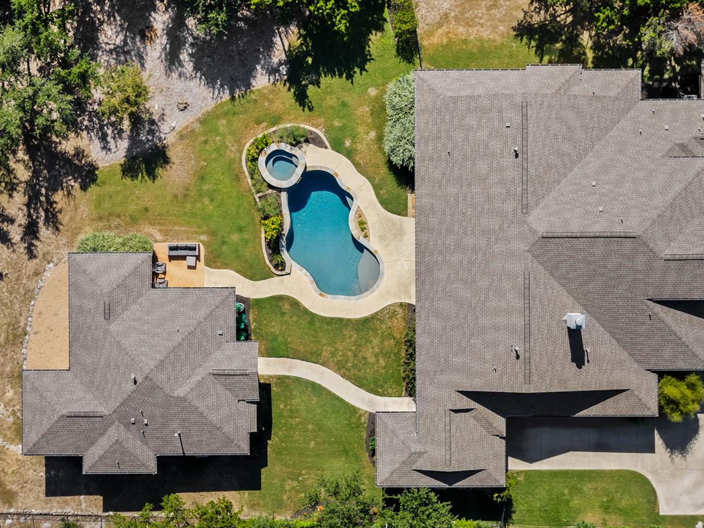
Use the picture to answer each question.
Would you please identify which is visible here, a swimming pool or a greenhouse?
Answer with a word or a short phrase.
swimming pool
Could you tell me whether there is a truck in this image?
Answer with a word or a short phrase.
No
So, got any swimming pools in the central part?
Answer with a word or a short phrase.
Yes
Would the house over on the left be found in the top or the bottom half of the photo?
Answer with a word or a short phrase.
bottom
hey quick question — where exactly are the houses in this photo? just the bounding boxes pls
[375,56,704,489]
[20,252,260,476]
